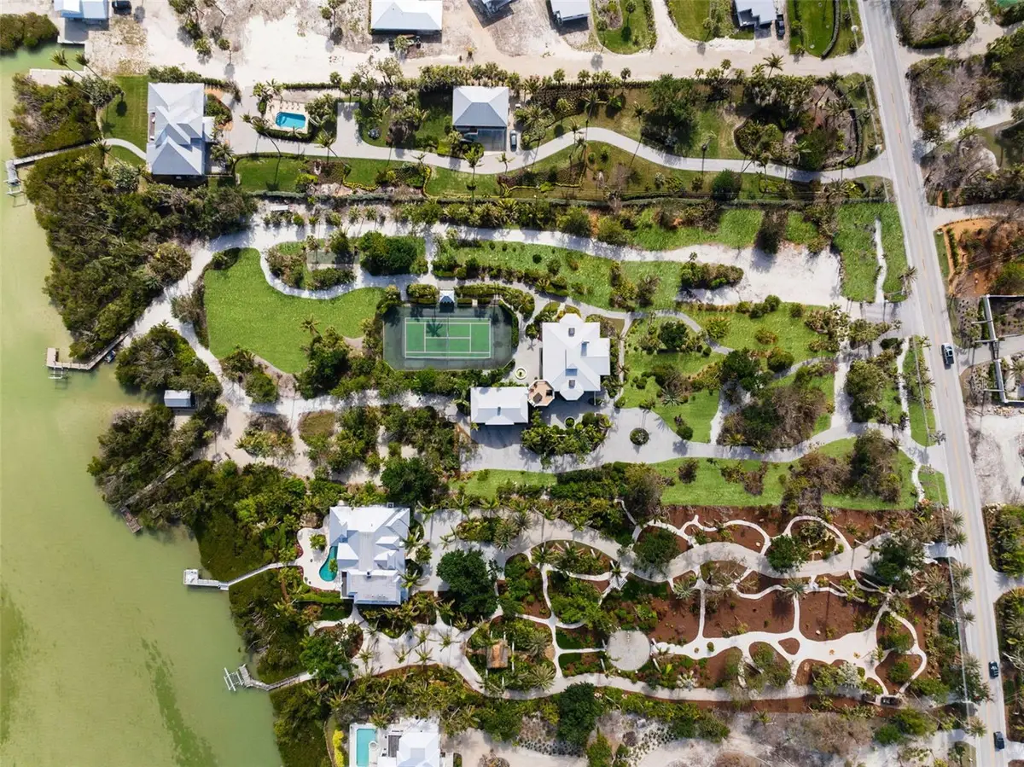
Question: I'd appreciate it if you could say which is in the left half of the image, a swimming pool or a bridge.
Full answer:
There is a swimming pool in the left half of the image.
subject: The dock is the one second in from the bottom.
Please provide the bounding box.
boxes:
[182,562,276,591]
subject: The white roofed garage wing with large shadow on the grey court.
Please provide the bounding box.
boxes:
[470,387,529,425]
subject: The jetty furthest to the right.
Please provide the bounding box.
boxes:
[238,665,312,692]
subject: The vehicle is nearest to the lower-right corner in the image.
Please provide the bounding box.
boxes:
[995,731,1007,752]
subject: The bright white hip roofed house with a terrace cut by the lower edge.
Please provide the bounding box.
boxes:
[378,729,442,767]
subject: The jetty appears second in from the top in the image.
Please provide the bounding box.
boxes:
[45,333,129,371]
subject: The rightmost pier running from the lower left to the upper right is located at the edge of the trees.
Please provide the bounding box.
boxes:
[118,451,199,533]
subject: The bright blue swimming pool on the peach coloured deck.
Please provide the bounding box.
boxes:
[274,110,307,129]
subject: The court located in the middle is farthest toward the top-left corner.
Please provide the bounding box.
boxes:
[381,304,518,370]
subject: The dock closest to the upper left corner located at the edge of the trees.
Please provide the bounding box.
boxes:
[4,140,97,182]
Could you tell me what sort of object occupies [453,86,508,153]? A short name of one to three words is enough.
house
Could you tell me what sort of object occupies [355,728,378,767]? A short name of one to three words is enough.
swimming pool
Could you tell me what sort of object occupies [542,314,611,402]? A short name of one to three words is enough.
house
